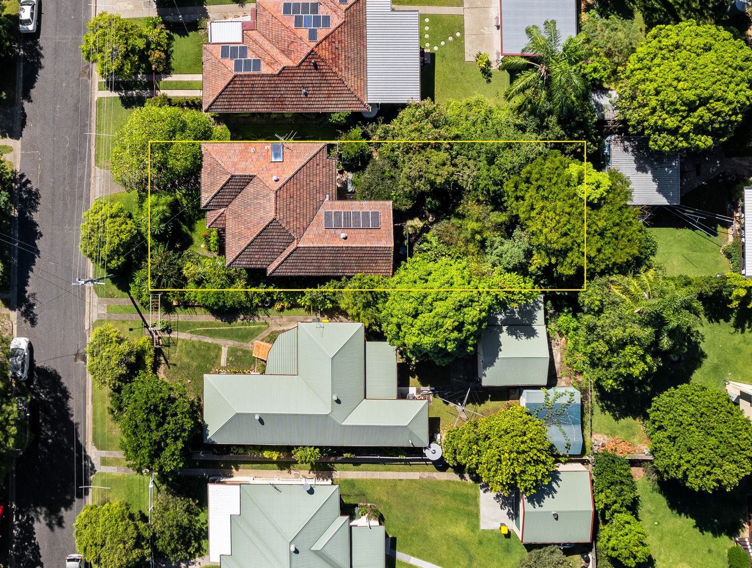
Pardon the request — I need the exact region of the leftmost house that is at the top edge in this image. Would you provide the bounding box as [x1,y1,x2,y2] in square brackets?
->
[201,0,421,113]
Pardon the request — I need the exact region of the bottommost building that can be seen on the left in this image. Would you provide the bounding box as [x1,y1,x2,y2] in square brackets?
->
[207,475,386,568]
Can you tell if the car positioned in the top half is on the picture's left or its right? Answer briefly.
left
